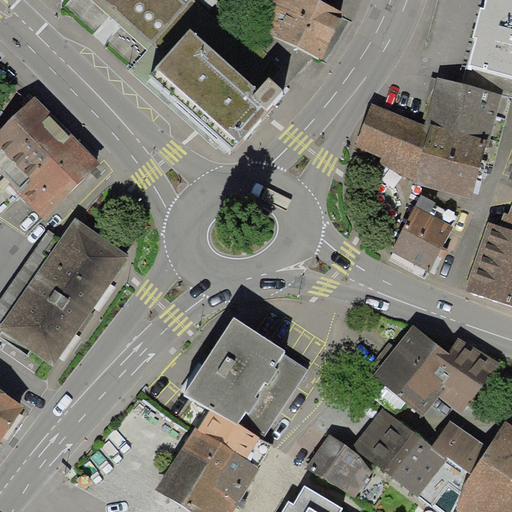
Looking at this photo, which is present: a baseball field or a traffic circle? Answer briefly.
traffic circle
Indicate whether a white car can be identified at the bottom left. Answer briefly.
Yes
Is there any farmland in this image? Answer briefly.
No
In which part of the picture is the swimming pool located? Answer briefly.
bottom right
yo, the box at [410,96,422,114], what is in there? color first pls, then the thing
black vehicle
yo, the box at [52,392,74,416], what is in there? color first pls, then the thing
white car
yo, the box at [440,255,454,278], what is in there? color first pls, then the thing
gray car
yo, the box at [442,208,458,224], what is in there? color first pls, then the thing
white umbrella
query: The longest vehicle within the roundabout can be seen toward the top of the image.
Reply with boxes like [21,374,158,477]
[249,182,293,210]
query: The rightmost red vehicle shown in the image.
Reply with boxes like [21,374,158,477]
[385,84,400,106]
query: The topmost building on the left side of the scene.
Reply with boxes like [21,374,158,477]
[91,0,196,45]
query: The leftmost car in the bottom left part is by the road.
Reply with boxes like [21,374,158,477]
[23,390,46,408]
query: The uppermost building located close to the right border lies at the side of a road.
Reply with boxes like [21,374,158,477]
[461,0,512,84]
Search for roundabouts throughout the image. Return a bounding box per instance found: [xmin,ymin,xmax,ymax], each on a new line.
[164,158,322,298]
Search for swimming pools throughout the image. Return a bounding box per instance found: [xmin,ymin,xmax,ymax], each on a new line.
[422,460,468,512]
